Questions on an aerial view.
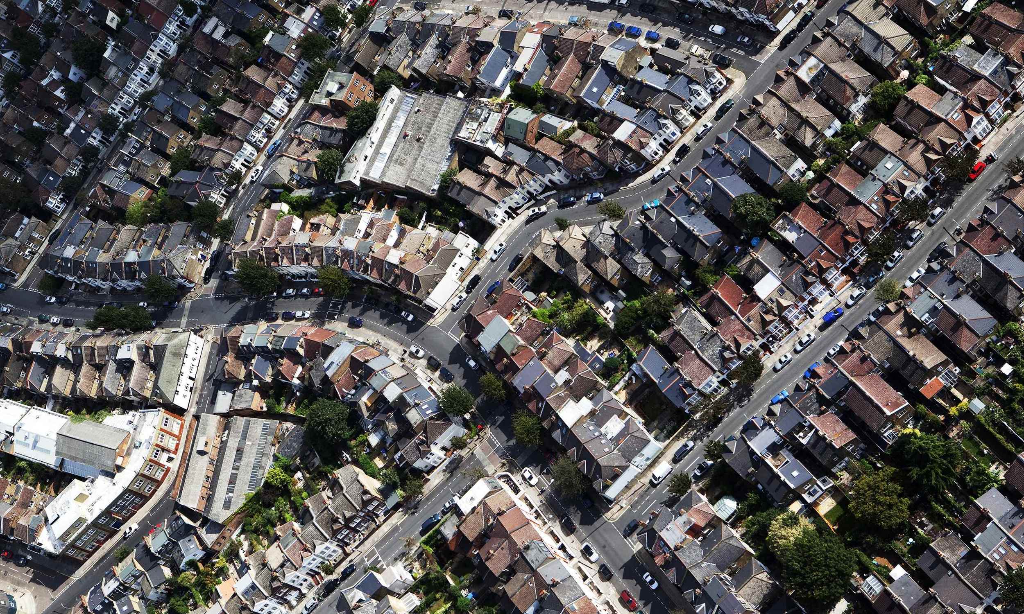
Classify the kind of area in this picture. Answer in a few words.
residential area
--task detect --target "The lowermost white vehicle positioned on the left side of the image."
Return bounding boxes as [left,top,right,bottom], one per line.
[303,595,320,613]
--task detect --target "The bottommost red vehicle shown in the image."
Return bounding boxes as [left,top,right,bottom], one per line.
[619,589,639,611]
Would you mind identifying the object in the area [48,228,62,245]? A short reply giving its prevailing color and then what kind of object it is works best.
black car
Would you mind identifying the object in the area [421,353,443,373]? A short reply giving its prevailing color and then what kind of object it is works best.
black vehicle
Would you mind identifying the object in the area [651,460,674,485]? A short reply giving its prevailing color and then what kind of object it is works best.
white vehicle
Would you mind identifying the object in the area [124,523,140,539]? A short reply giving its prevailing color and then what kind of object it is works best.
white car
